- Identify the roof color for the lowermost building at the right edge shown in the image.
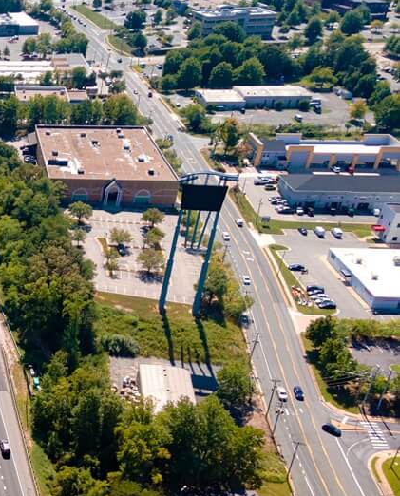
white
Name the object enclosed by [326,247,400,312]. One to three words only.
building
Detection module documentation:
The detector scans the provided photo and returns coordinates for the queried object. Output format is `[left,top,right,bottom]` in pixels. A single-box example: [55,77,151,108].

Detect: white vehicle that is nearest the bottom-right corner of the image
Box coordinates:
[276,387,289,400]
